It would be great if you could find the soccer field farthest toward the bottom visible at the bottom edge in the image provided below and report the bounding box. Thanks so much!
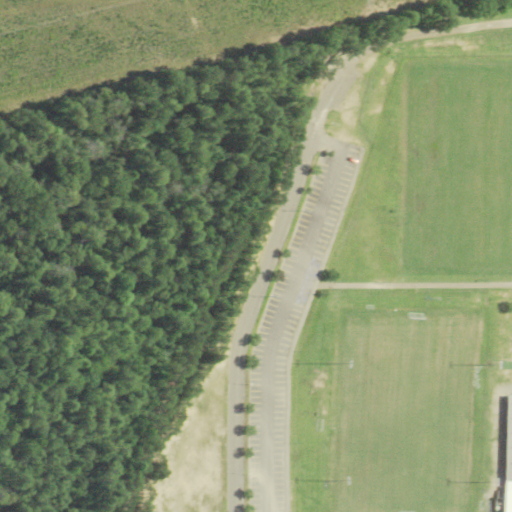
[335,312,477,512]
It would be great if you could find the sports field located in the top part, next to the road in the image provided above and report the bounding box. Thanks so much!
[403,54,512,276]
